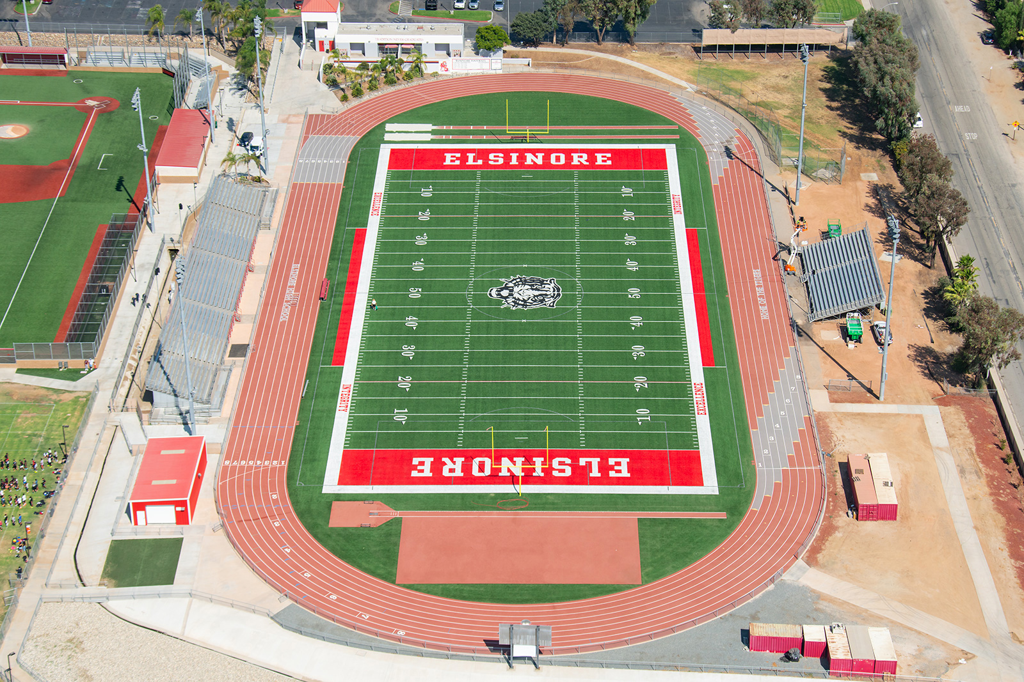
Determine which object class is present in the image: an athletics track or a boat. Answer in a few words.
athletics track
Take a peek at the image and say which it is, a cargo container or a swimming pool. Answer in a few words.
cargo container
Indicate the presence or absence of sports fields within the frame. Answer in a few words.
Yes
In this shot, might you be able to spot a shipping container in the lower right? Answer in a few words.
Yes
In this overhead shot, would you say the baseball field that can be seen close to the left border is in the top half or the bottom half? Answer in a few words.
top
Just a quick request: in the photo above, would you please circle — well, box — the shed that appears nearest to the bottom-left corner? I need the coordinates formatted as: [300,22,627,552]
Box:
[129,436,208,525]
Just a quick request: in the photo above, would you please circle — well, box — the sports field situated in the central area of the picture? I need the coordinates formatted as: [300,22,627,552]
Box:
[287,91,754,603]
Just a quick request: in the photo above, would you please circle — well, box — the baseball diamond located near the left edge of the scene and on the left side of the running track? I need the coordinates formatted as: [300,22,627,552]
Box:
[0,67,175,354]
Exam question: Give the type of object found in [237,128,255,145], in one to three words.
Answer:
car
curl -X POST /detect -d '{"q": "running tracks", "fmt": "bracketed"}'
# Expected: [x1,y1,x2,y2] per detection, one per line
[213,71,829,652]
